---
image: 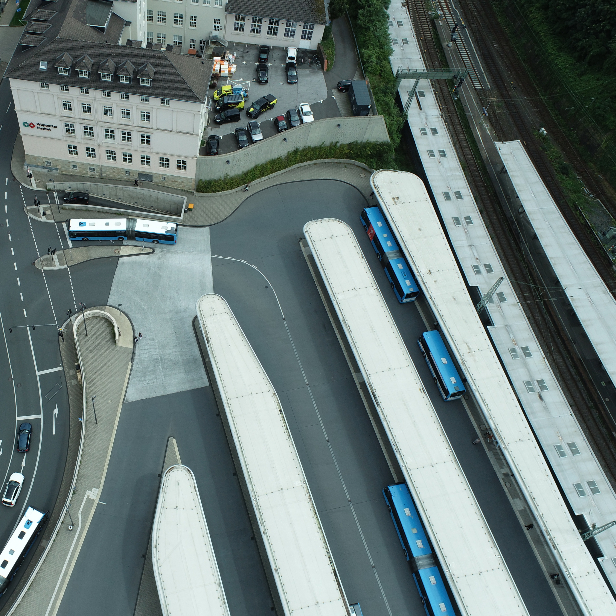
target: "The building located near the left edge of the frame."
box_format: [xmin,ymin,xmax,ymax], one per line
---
[3,0,219,190]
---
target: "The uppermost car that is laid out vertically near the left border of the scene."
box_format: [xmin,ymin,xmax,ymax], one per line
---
[17,422,32,454]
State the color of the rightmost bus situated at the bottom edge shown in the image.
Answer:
blue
